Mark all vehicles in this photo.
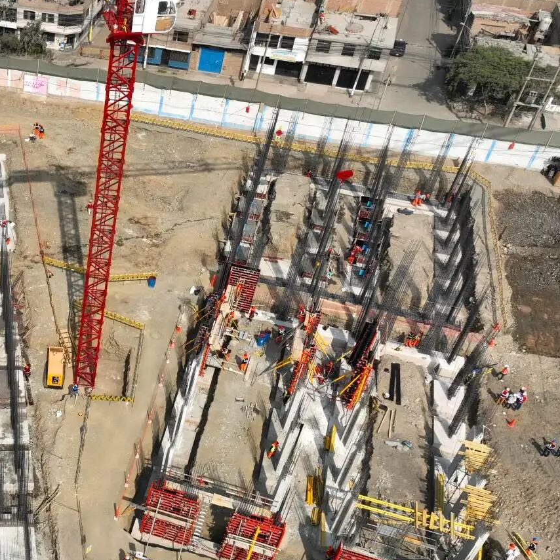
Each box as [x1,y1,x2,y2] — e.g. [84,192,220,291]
[527,158,560,190]
[389,40,410,56]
